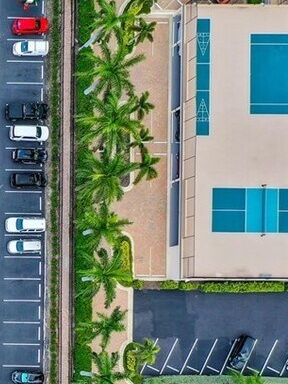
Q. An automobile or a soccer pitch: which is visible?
automobile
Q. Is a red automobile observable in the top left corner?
Yes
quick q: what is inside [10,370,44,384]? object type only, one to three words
car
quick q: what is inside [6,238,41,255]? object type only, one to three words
car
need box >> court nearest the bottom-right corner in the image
[212,184,288,235]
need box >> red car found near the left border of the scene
[11,17,49,36]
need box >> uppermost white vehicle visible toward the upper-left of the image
[12,39,49,58]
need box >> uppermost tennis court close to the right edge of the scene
[250,34,288,115]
